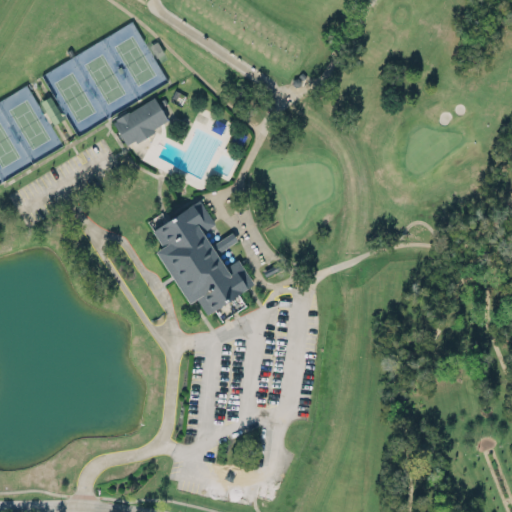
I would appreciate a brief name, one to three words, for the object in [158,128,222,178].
swimming pool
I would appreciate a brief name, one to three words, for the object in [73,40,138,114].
tennis court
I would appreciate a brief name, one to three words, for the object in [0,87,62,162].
tennis court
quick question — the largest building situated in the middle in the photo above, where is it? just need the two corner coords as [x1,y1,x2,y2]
[155,202,254,315]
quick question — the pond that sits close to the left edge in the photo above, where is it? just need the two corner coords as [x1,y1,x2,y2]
[0,248,145,470]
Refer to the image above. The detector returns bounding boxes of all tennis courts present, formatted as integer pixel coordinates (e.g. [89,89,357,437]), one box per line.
[102,21,168,96]
[46,59,108,131]
[0,108,33,182]
[73,40,138,114]
[0,87,62,162]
